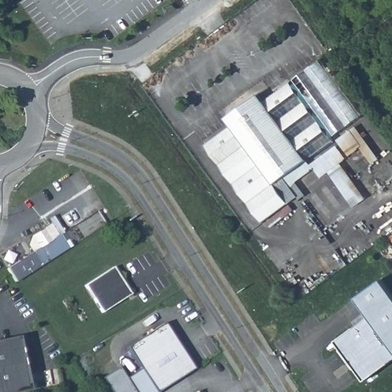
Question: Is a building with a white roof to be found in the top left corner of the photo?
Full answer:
No, looking in the top left corner of the photo, there is no building with a white roof.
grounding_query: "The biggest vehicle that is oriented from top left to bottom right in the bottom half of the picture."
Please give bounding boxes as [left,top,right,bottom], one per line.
[120,356,137,372]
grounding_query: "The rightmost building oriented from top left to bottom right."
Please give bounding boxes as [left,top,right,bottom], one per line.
[350,126,378,165]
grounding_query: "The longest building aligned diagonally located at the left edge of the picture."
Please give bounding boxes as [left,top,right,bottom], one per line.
[10,214,74,282]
